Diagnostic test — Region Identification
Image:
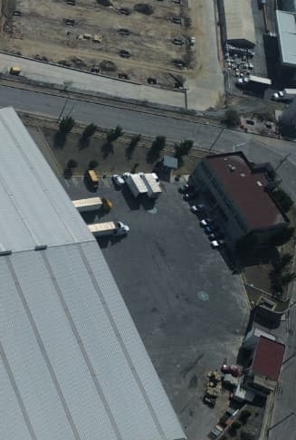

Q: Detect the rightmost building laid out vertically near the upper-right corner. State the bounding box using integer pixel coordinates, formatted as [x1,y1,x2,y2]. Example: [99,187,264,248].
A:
[265,10,296,85]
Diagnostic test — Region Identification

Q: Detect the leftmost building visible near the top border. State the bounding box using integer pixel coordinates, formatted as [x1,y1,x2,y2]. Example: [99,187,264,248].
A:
[215,0,255,58]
